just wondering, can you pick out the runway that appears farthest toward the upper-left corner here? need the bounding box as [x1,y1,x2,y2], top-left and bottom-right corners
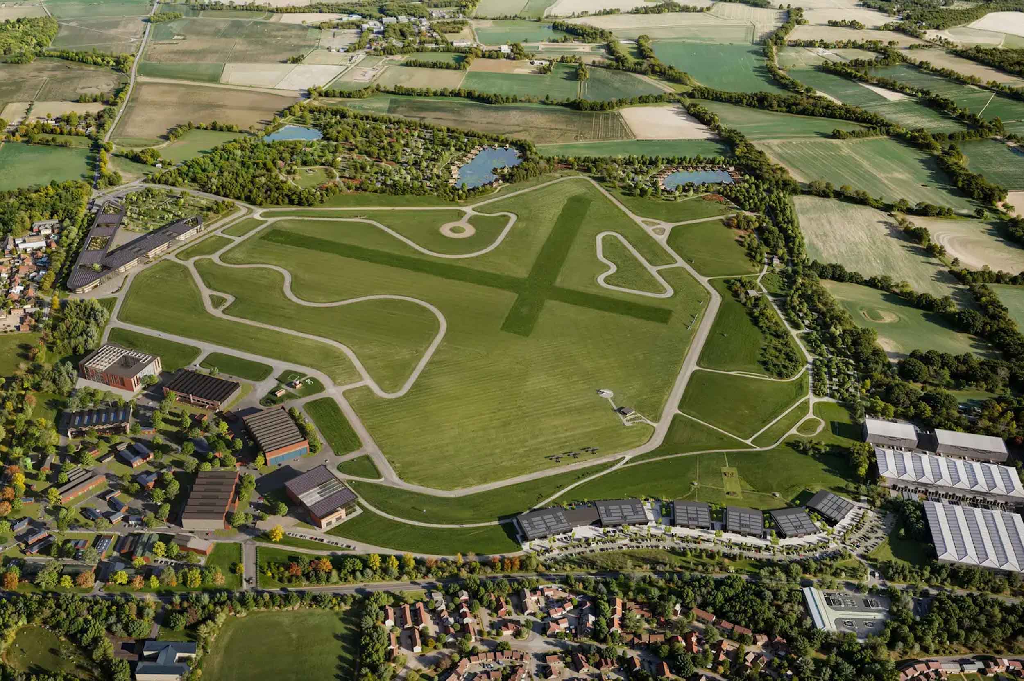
[259,229,520,288]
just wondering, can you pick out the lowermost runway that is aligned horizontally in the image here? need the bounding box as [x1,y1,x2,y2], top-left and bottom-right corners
[503,274,673,324]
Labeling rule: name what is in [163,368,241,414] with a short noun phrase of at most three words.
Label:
hangar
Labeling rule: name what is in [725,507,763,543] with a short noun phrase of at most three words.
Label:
shed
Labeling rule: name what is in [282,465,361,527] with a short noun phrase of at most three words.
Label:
building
